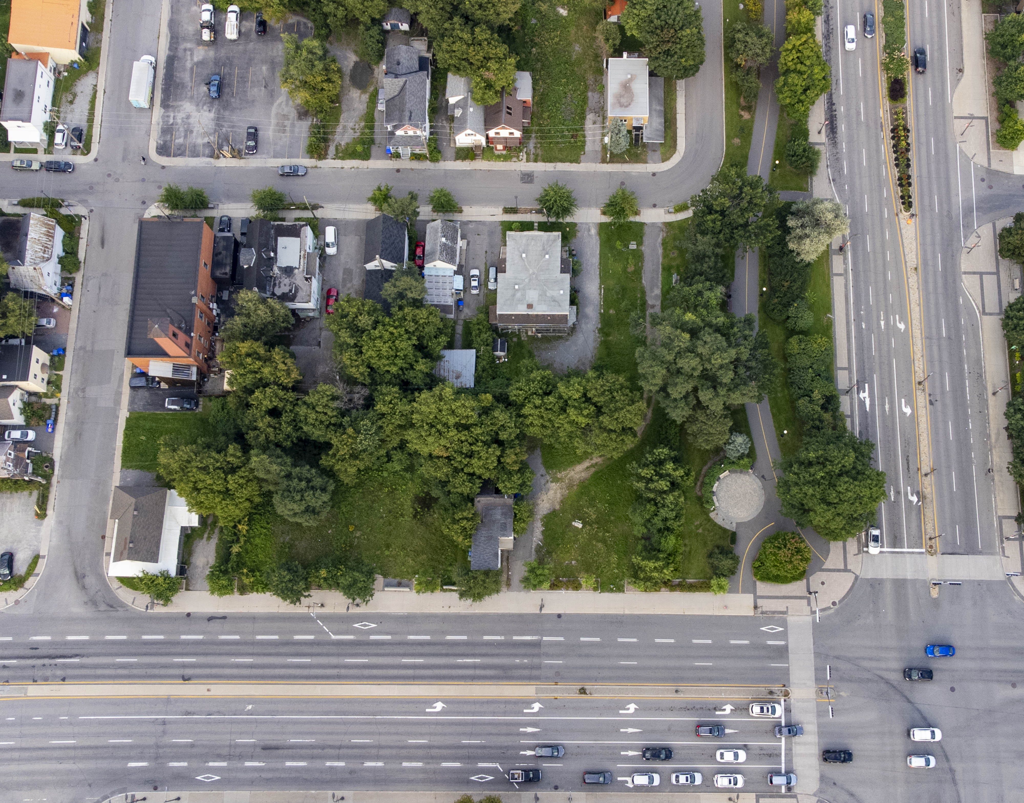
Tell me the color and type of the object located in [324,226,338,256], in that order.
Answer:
white vehicle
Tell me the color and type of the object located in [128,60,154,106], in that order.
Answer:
white truck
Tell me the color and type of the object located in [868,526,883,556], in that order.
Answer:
white car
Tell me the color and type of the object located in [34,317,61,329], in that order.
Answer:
gray vehicle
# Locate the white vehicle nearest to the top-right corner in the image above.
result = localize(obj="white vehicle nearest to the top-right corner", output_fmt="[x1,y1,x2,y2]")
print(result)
[844,25,858,51]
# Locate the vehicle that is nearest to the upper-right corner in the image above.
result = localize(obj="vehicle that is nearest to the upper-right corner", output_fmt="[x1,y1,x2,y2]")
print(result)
[913,48,928,74]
